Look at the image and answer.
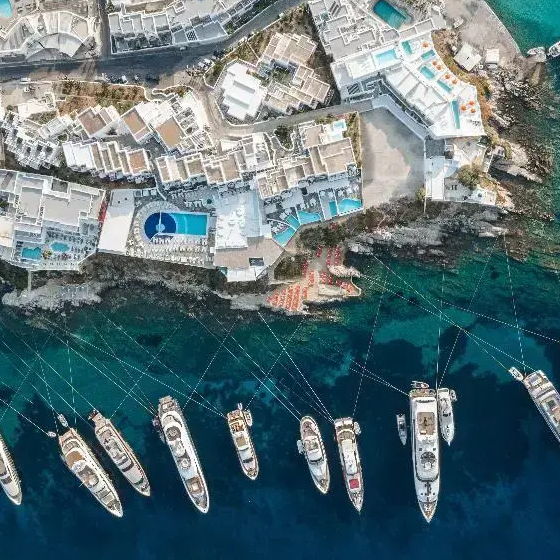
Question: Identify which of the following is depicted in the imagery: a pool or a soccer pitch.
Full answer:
It is a pool that can be seen here.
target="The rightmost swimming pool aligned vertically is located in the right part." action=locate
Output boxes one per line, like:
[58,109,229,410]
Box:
[450,99,462,130]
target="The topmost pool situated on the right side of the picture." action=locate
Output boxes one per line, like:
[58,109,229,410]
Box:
[371,0,409,32]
